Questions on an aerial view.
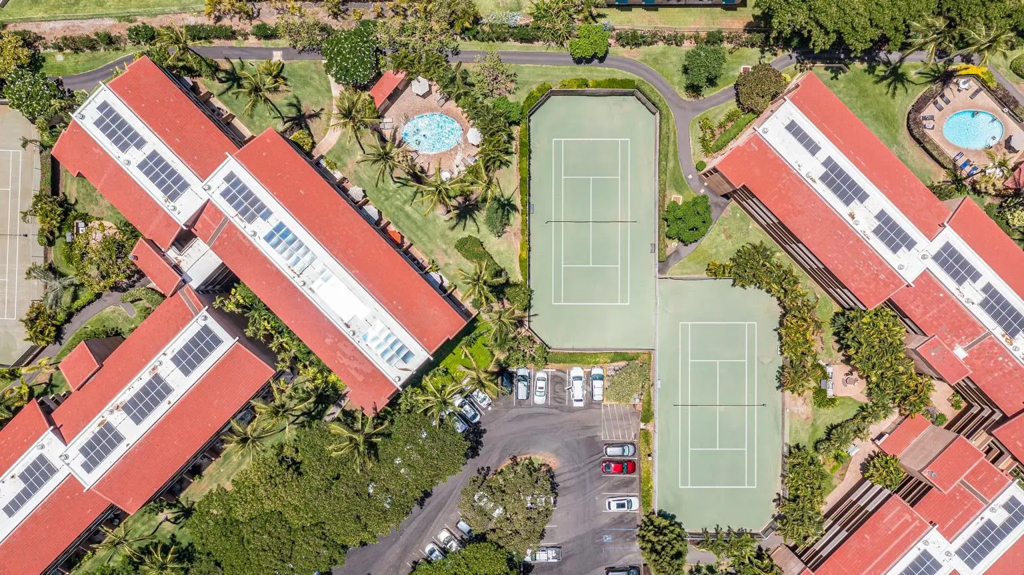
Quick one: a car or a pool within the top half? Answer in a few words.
pool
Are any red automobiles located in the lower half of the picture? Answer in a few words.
Yes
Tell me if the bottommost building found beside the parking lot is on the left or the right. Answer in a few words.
right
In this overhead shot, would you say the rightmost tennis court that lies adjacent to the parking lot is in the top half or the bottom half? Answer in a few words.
bottom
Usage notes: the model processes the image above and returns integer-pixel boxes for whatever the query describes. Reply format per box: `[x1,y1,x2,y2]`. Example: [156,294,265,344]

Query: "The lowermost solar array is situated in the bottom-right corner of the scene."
[899,548,943,575]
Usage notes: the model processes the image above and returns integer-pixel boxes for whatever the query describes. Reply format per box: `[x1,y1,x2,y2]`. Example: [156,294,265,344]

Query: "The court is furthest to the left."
[0,104,42,366]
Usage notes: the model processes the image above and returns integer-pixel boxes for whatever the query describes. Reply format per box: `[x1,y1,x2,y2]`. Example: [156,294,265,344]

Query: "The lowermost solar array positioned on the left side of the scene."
[2,452,58,518]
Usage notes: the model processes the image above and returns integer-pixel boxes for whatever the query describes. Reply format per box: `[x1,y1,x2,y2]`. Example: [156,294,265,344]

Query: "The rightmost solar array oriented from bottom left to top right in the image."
[954,486,1024,570]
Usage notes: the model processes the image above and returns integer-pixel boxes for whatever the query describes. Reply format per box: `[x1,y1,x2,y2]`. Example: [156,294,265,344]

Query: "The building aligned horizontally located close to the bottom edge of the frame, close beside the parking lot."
[769,457,1024,575]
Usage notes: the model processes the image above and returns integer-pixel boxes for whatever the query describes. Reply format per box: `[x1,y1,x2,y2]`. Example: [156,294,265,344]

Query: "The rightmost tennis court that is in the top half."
[530,95,654,350]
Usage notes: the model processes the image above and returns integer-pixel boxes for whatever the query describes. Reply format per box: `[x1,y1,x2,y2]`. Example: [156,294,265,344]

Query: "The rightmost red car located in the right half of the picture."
[602,460,634,476]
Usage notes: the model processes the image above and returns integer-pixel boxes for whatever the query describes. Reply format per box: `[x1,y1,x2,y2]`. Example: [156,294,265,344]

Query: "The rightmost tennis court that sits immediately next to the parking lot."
[658,278,781,532]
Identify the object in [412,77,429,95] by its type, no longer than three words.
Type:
umbrella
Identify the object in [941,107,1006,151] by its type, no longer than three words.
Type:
swimming pool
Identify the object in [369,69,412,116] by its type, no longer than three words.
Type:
shed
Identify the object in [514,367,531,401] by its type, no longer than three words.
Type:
car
